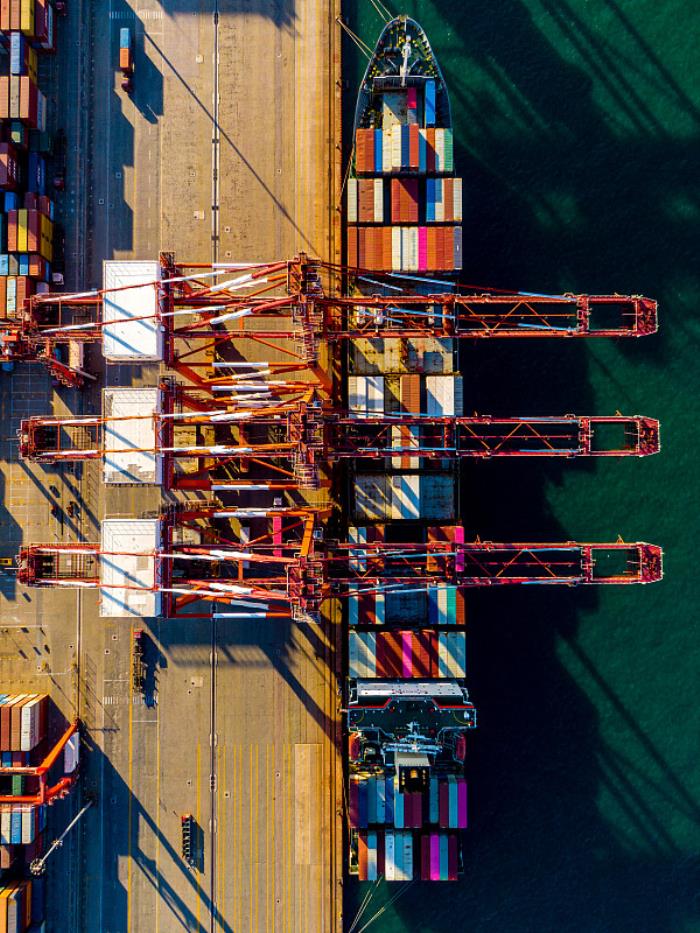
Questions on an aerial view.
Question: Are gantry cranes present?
Yes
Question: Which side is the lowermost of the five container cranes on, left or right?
left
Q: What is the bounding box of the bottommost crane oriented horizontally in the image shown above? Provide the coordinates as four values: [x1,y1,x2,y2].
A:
[4,497,665,628]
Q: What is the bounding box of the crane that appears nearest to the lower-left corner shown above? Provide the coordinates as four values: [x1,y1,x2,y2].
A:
[0,730,78,808]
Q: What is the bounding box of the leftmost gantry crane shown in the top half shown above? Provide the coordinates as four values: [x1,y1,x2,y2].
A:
[0,325,86,380]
